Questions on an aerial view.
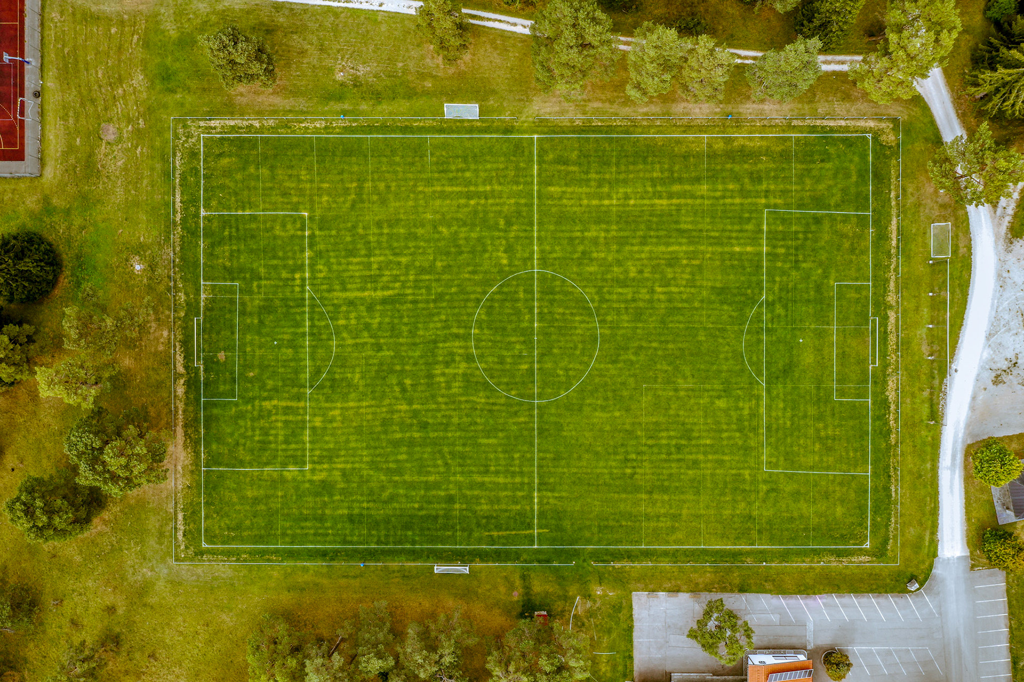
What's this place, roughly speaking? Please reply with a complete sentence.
This image shows a sports ground.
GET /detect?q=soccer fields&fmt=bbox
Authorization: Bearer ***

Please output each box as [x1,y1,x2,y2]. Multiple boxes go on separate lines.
[174,119,898,562]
